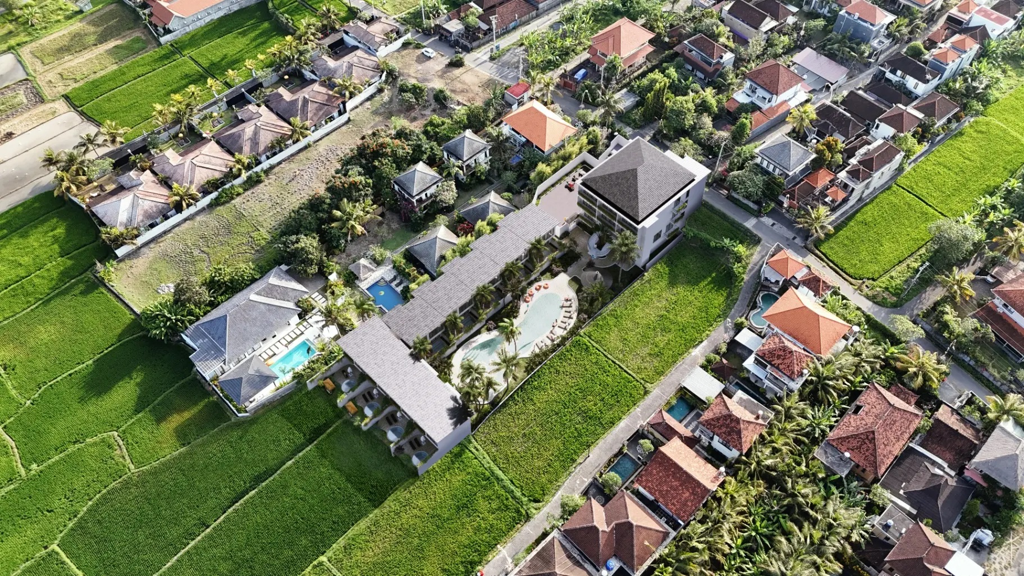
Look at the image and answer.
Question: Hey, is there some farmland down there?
Yes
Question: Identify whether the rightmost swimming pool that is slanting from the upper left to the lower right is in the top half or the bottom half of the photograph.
bottom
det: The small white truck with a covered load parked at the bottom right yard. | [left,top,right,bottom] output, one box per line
[971,524,1000,553]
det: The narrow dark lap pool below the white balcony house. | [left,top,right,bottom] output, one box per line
[730,378,769,404]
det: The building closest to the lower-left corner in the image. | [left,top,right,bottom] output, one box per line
[216,353,277,407]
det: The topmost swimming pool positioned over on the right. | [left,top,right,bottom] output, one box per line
[749,290,781,331]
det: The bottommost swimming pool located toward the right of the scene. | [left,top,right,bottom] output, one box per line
[611,450,644,478]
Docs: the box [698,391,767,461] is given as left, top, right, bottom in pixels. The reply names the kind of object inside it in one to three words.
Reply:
house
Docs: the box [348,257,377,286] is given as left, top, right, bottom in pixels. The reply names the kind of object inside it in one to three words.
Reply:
gazebo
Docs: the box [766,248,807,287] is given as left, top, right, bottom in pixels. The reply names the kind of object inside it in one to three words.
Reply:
building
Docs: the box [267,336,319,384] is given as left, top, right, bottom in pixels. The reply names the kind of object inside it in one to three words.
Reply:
swimming pool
